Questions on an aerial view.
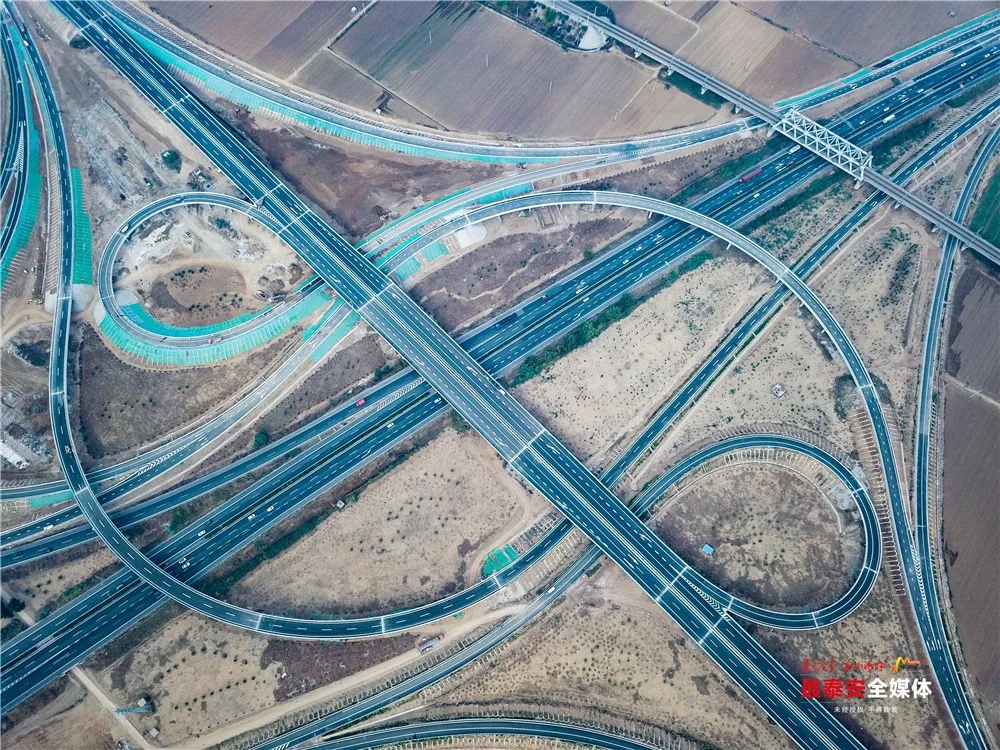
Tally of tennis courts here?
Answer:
0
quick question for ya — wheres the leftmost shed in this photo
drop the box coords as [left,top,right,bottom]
[0,437,29,472]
